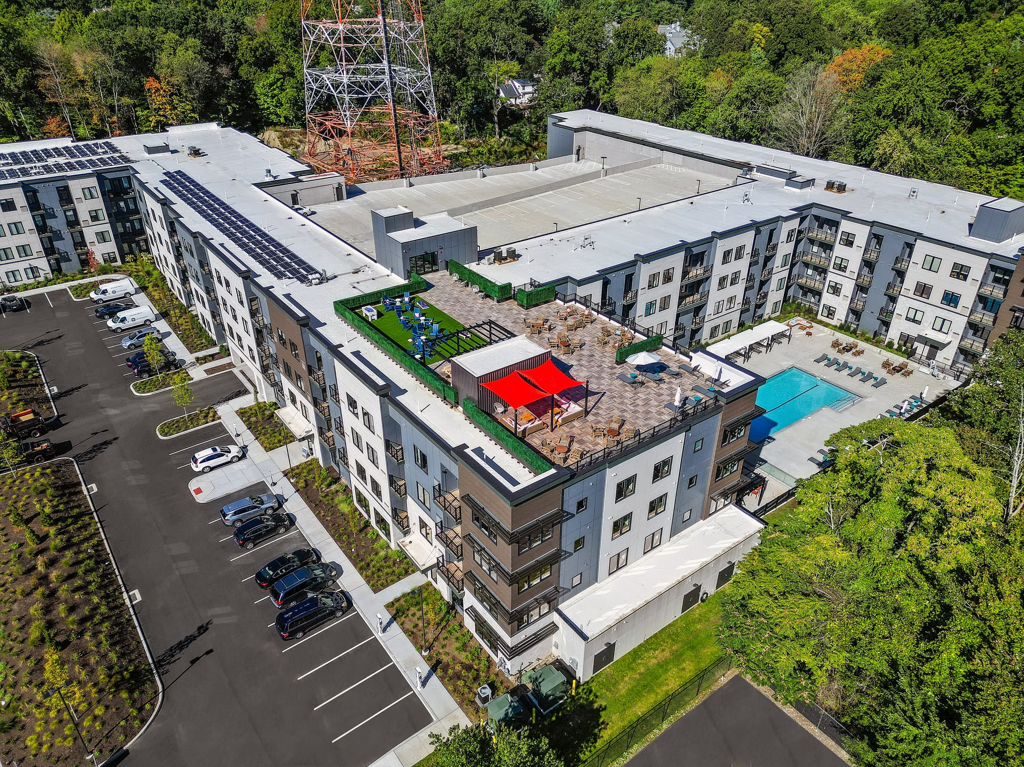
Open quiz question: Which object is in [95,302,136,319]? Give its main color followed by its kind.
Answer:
black car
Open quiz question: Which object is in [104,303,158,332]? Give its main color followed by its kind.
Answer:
white van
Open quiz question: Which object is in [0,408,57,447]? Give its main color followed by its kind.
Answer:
black truck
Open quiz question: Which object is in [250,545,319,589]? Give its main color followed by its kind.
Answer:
black car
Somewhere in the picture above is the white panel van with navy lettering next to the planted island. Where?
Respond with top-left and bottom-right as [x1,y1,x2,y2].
[87,277,138,304]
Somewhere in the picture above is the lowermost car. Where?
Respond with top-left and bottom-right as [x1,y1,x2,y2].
[273,589,351,643]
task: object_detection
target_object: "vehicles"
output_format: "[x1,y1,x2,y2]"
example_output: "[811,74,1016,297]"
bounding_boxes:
[273,589,351,643]
[250,545,319,589]
[216,492,279,530]
[0,408,57,447]
[104,303,158,332]
[131,355,179,377]
[118,324,162,349]
[95,302,136,319]
[186,443,244,474]
[228,511,292,551]
[87,277,138,304]
[0,294,21,312]
[0,432,53,473]
[266,560,341,609]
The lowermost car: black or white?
black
